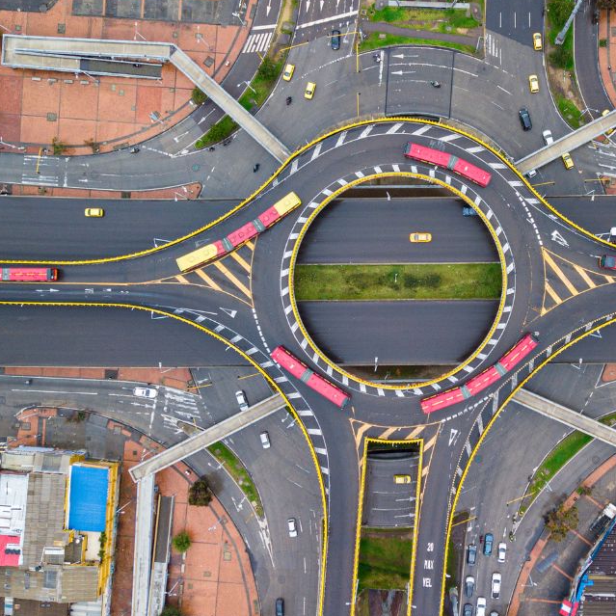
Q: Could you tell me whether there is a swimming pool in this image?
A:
No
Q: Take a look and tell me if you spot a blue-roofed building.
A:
Yes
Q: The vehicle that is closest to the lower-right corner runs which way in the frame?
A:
diagonally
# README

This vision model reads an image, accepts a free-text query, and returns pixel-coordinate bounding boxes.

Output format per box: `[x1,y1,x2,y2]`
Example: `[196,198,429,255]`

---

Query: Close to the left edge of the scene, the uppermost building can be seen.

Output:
[1,449,81,474]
